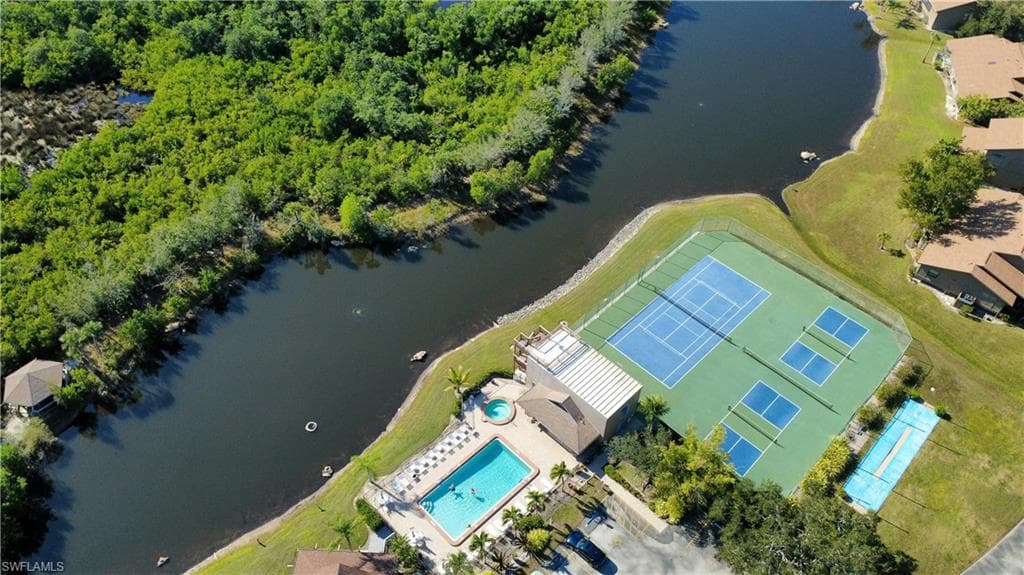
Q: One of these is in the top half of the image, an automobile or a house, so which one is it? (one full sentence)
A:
Visible in the top half of the image is a house.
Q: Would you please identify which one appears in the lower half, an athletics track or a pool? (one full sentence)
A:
It is a pool that can be seen in the lower half.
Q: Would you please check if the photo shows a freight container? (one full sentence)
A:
No, no freight container is visible in the scene.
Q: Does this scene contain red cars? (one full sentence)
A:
No, there is no red car in the image.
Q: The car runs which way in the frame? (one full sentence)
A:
What the image shows is the car lying on a diagonal.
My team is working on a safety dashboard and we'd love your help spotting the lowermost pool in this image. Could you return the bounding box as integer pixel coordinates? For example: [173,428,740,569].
[419,436,536,543]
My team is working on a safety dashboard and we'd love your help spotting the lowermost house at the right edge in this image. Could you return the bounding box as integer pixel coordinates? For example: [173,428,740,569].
[921,189,1024,314]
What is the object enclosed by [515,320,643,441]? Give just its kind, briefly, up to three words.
building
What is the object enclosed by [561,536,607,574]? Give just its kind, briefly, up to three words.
car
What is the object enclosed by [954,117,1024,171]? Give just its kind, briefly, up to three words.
house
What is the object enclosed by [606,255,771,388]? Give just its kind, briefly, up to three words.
tennis court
